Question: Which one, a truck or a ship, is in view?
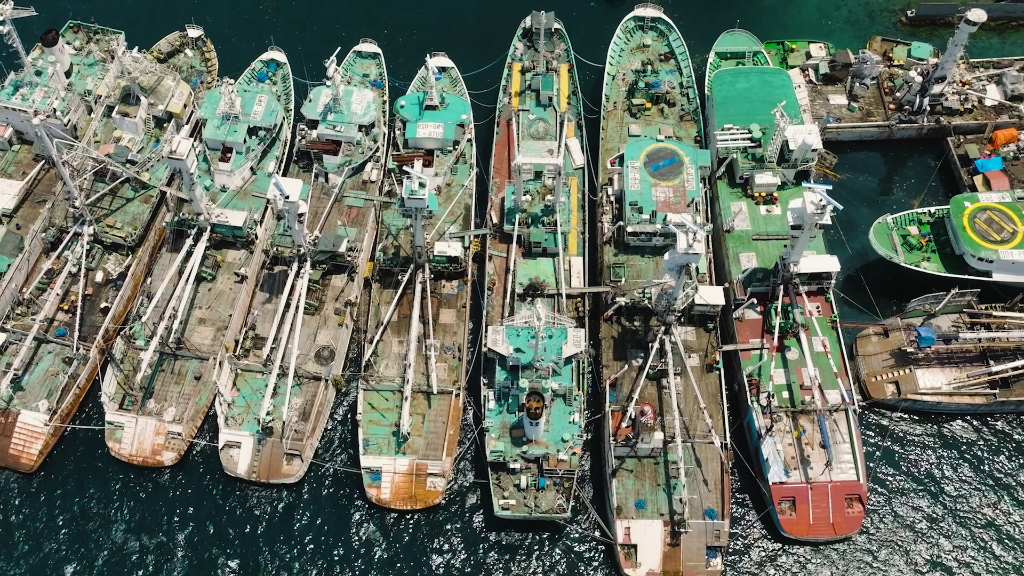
ship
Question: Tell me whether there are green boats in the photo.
Yes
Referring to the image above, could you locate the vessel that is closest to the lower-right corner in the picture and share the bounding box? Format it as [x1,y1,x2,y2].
[850,287,1024,420]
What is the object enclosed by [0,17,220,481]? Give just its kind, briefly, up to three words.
vessel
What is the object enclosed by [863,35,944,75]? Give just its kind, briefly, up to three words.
boat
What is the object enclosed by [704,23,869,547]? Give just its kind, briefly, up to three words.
ship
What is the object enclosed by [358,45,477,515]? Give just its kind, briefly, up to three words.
vessel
